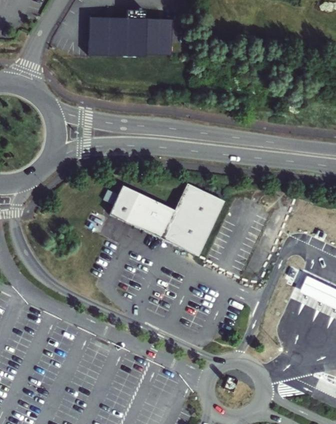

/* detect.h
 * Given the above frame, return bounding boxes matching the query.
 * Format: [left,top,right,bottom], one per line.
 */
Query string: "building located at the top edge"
[88,9,173,57]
